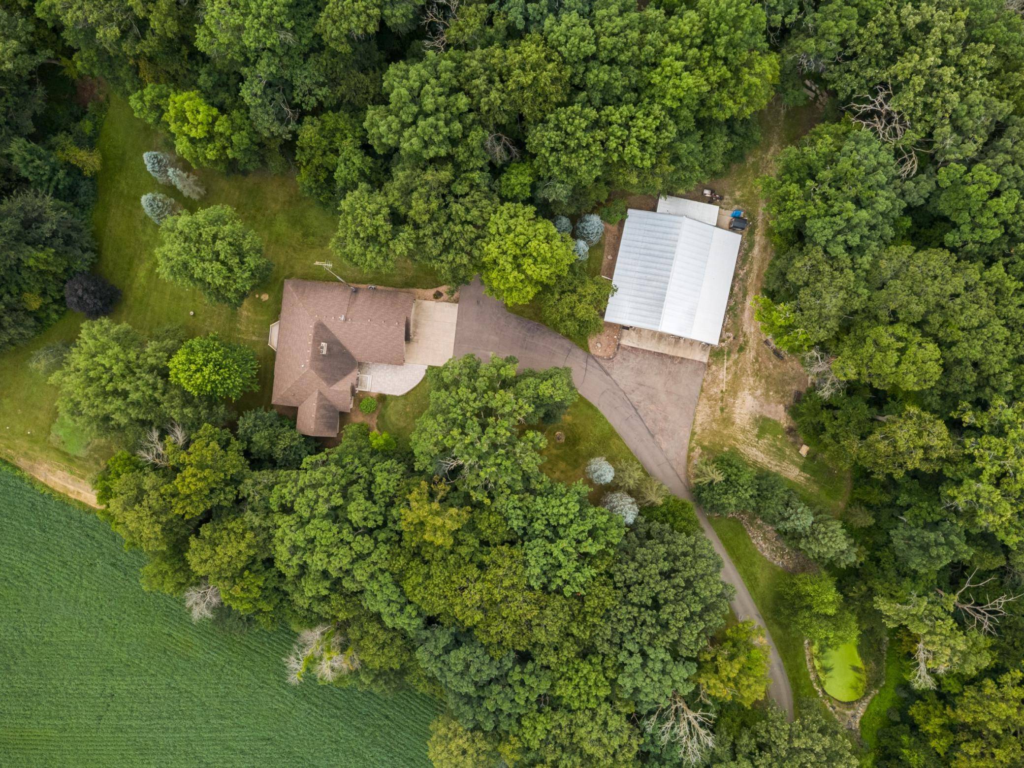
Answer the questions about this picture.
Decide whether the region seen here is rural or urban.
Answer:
rural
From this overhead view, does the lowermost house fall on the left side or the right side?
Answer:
left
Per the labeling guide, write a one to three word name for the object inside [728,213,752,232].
vehicle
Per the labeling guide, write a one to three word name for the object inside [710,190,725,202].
vehicle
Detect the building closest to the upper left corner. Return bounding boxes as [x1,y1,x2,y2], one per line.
[271,279,416,437]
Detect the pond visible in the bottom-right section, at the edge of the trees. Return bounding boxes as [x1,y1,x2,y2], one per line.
[812,619,865,699]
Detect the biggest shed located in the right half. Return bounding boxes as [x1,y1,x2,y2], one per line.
[603,208,742,345]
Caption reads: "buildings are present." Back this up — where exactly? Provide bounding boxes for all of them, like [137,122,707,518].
[271,279,416,437]
[603,208,742,345]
